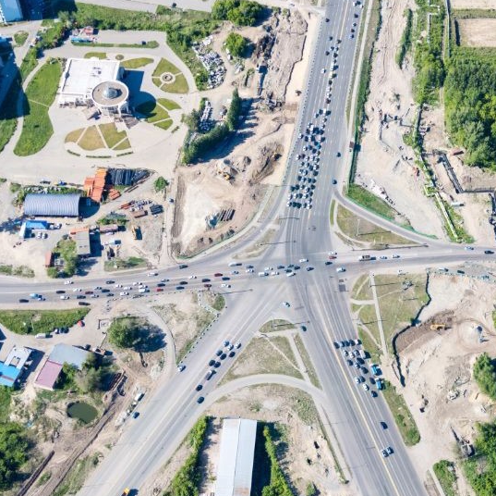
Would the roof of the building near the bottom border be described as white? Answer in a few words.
Yes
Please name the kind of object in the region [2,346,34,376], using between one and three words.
building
